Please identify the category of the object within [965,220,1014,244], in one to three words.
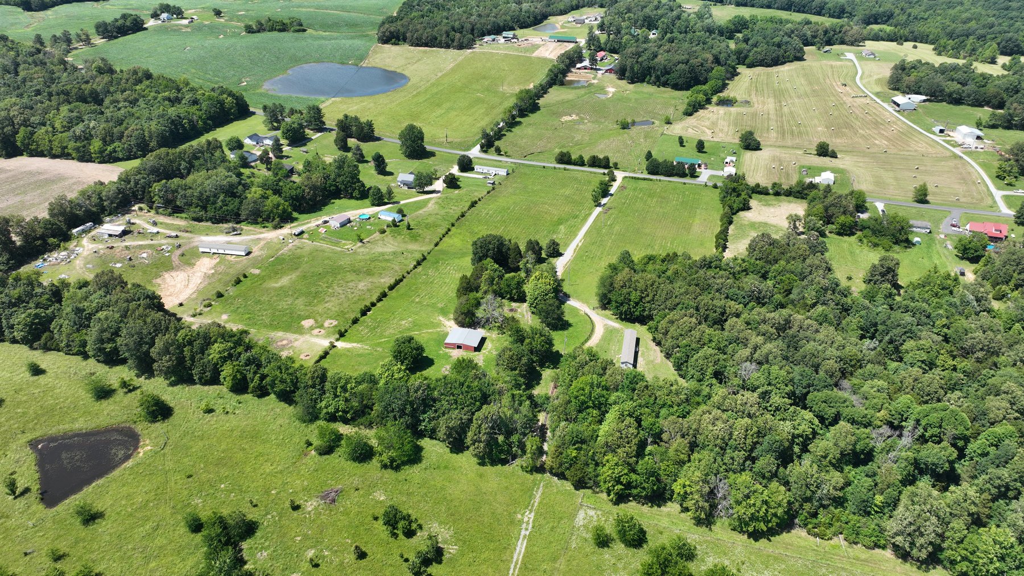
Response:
house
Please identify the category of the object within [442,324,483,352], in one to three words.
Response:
barn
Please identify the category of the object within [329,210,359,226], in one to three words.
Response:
building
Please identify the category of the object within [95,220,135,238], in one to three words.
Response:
shed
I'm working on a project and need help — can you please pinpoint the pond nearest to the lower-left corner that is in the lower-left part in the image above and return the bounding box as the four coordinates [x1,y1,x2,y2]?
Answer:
[29,426,141,509]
